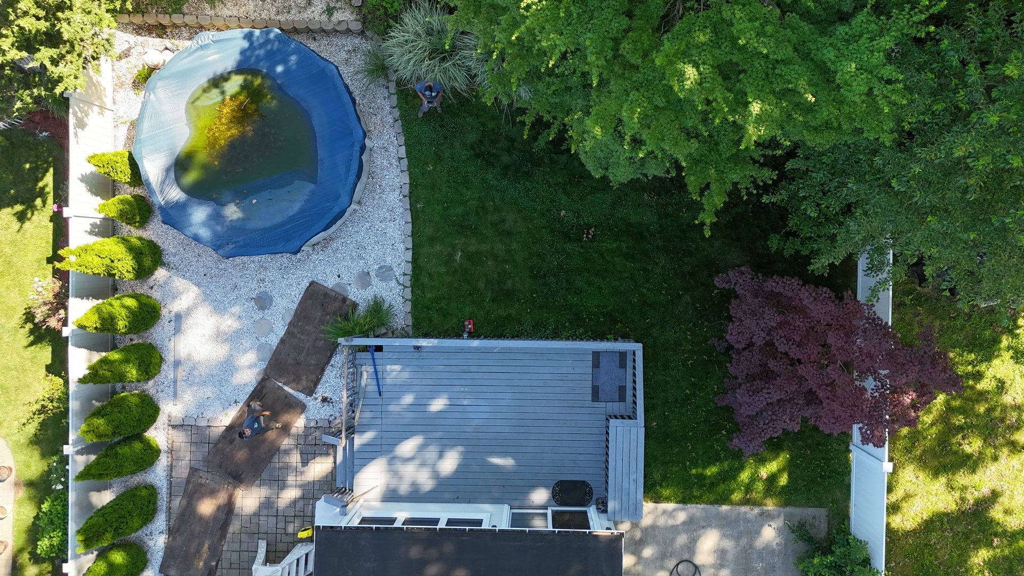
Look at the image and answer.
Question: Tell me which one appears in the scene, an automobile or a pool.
pool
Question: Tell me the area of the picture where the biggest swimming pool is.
top left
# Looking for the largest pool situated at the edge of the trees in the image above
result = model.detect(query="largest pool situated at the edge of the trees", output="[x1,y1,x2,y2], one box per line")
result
[132,28,374,259]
